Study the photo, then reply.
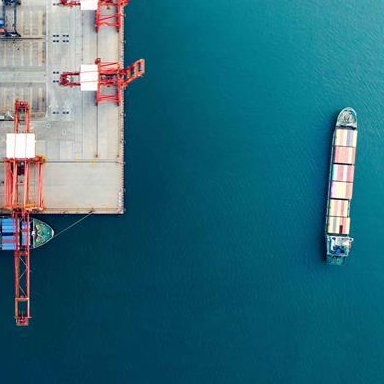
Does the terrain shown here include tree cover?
No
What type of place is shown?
port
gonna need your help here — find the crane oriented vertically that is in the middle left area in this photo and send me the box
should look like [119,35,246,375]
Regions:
[5,102,47,327]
